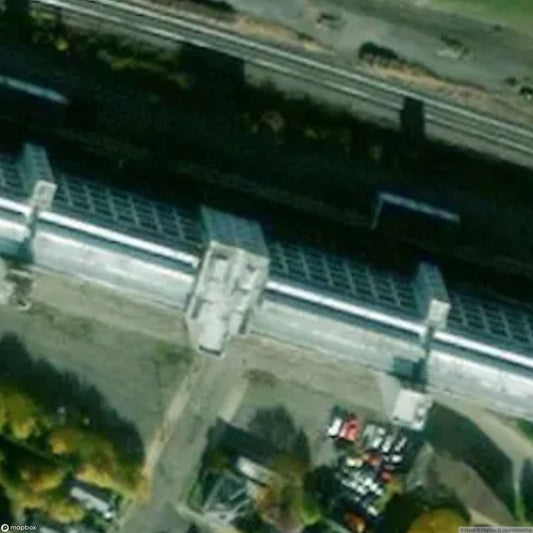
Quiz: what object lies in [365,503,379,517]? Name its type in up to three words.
car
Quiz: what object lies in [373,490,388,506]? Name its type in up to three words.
car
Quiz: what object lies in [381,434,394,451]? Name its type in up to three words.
vehicle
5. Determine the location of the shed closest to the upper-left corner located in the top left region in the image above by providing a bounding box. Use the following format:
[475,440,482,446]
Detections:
[0,76,68,136]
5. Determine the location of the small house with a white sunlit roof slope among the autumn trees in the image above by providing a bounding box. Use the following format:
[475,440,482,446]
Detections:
[67,471,117,513]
